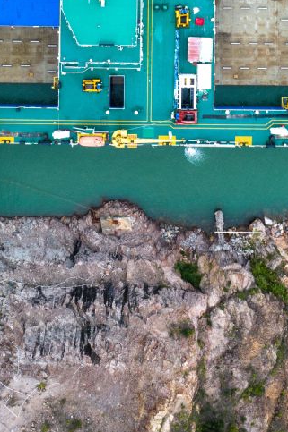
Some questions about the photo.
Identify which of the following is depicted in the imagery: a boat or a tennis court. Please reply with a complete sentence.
It is a boat that can be seen here.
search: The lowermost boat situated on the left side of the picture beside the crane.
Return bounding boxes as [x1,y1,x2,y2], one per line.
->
[71,125,110,149]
